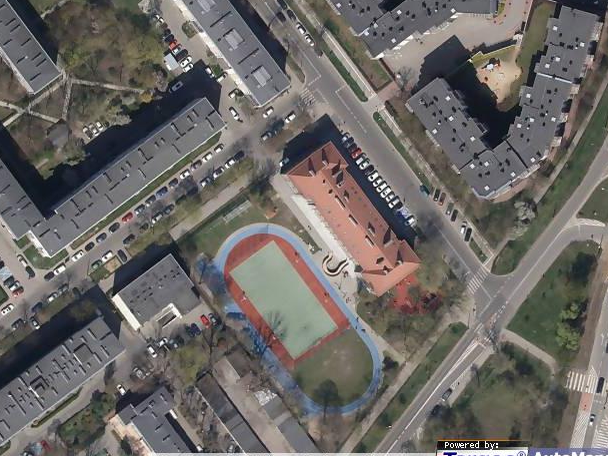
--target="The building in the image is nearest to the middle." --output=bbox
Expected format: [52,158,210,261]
[283,140,421,296]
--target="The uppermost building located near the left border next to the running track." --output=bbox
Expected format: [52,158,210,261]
[0,97,225,257]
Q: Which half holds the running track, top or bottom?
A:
bottom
